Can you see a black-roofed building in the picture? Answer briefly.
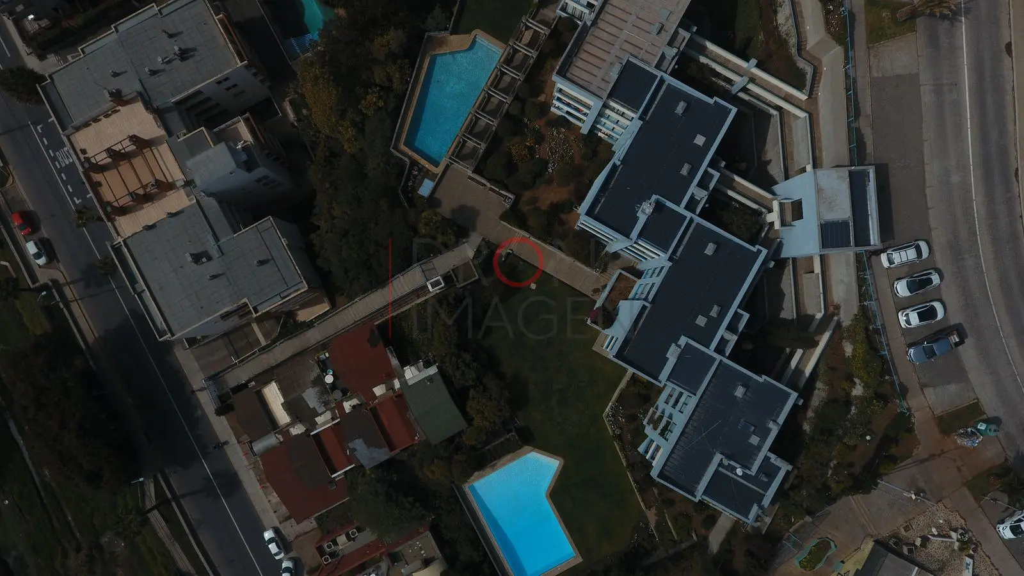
Yes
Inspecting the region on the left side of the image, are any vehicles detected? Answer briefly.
Yes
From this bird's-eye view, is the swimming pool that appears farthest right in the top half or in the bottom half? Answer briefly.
bottom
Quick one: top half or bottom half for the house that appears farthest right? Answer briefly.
bottom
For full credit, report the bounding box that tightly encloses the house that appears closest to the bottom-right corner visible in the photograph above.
[851,537,926,576]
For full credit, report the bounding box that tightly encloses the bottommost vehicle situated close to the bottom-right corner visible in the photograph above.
[995,504,1024,538]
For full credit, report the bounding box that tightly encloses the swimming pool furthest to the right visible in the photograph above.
[463,446,582,576]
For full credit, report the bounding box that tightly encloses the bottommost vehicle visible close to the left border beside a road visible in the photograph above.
[24,237,51,266]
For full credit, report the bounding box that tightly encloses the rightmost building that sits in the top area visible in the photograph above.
[771,162,882,258]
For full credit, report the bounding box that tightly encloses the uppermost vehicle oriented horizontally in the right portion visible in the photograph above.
[877,241,928,268]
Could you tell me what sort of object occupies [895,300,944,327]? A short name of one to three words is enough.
car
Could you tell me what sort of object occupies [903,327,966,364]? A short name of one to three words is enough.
truck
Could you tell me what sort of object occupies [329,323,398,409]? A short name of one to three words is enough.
house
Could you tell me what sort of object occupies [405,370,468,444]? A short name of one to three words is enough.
building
